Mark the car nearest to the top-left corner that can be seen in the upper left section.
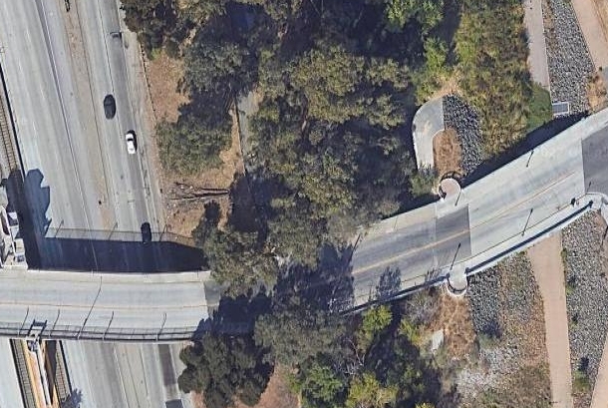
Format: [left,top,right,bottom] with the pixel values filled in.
[103,94,116,118]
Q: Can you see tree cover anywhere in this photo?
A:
Yes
